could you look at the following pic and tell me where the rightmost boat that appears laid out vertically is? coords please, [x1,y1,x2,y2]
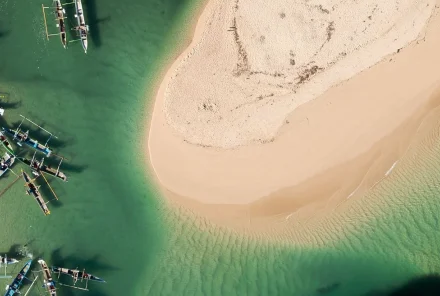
[62,0,90,53]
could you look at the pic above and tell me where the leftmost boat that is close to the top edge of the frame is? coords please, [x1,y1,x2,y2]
[42,0,67,49]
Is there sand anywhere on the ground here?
Yes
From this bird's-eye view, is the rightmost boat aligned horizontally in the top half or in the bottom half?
bottom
